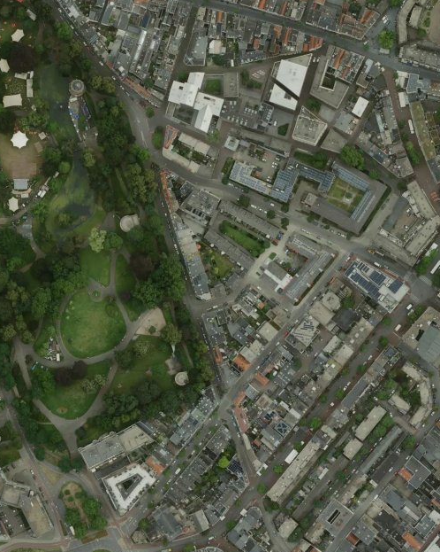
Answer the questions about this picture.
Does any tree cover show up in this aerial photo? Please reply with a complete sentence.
Yes, there is tree cover in the image.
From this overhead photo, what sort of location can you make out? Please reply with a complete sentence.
The area seen from above is a residential area.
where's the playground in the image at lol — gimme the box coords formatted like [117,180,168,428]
[136,309,166,336]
